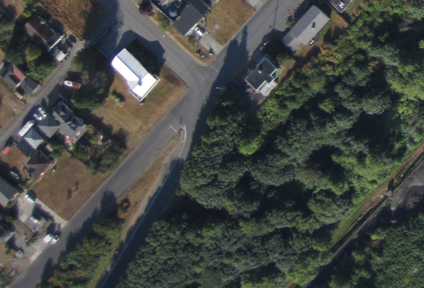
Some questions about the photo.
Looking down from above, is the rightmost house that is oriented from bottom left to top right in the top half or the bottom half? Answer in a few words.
top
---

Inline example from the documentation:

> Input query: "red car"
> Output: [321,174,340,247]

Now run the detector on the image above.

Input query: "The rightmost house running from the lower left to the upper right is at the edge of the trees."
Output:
[282,6,330,55]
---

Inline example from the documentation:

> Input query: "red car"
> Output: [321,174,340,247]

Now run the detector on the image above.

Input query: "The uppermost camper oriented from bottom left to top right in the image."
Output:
[18,117,39,136]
